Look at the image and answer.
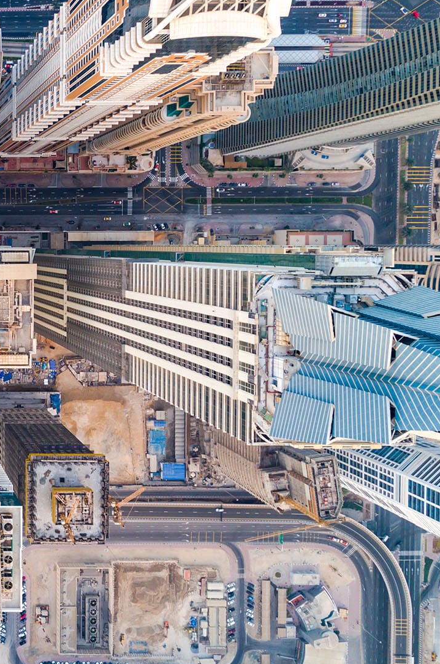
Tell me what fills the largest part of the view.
buildings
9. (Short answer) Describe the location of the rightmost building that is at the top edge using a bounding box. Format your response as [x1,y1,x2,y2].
[211,16,440,171]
